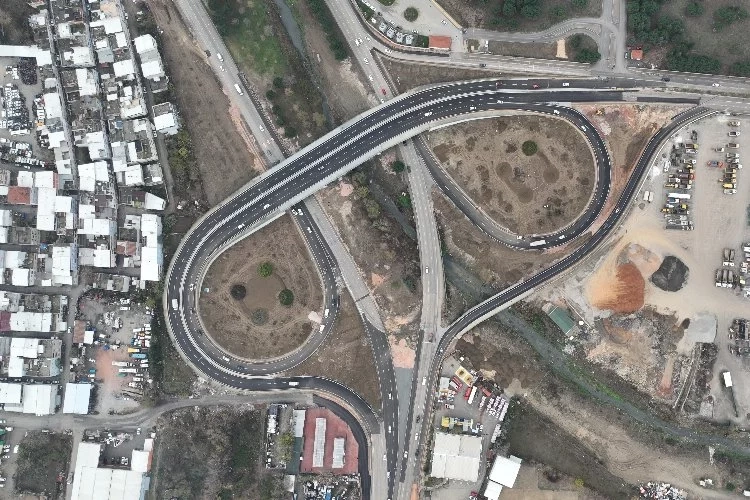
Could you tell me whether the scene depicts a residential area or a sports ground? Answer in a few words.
residential area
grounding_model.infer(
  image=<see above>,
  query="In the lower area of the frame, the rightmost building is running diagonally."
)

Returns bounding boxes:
[547,306,576,334]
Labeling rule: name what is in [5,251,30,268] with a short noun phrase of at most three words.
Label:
house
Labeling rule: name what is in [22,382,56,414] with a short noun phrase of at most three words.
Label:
building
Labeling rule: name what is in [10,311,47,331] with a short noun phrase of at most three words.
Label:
house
